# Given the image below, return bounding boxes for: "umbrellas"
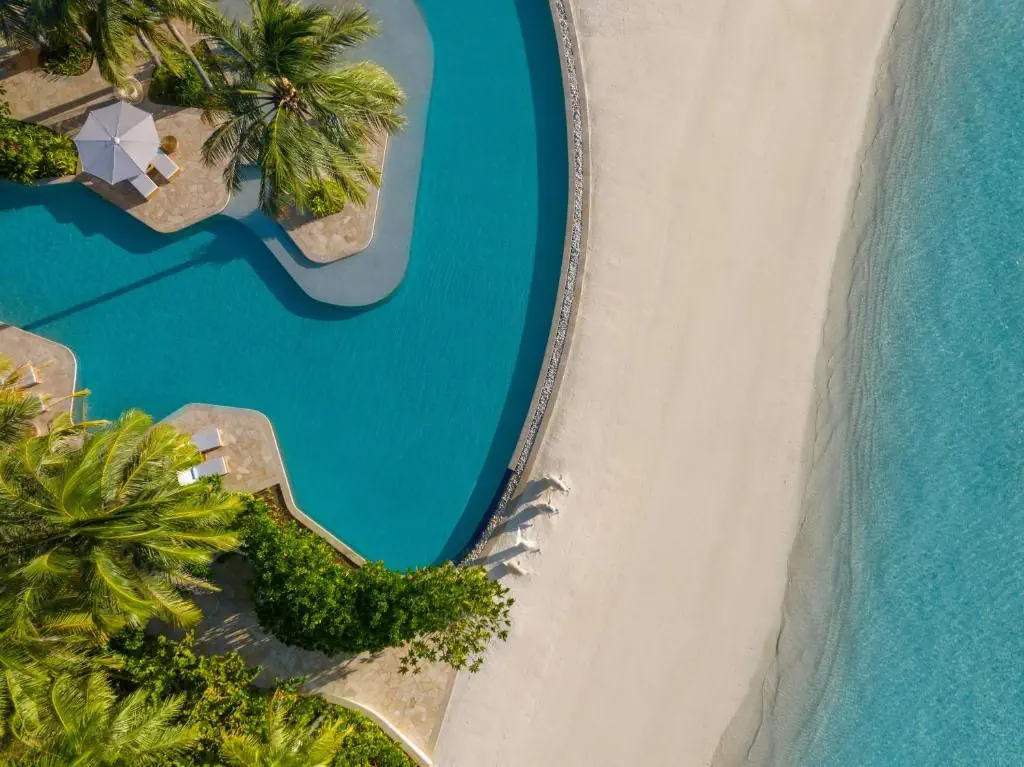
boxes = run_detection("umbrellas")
[73,98,161,186]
